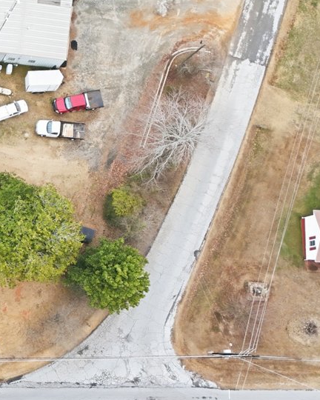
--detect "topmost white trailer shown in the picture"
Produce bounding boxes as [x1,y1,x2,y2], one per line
[22,67,68,92]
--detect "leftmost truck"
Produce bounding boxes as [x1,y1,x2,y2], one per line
[0,99,30,124]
